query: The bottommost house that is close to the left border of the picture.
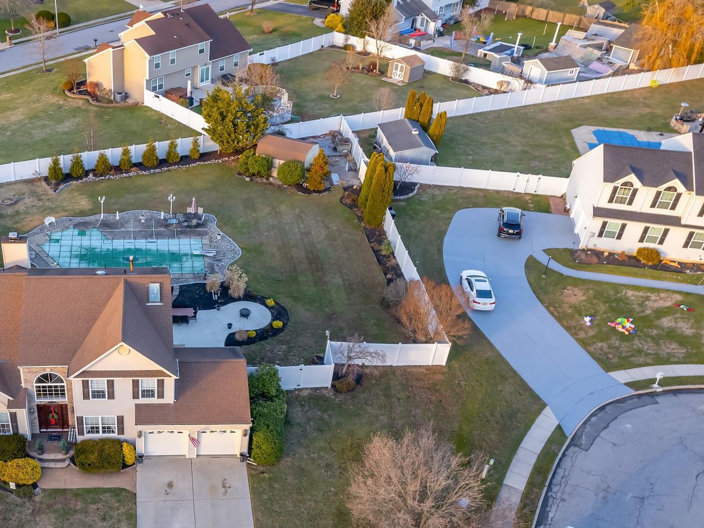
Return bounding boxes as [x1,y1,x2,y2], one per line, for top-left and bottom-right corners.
[0,230,254,464]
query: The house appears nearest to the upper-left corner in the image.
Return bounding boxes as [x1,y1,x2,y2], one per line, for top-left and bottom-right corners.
[72,2,257,103]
